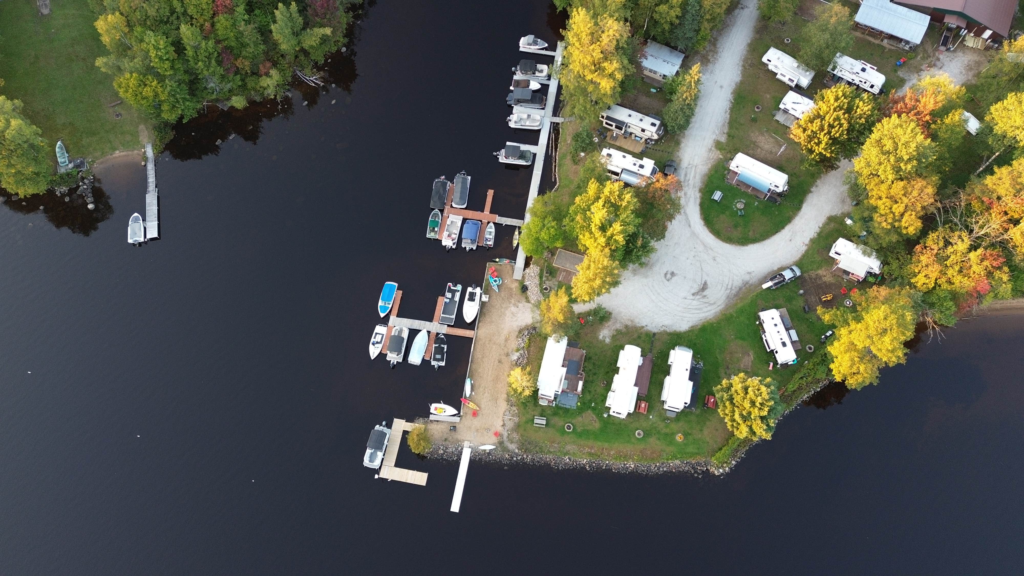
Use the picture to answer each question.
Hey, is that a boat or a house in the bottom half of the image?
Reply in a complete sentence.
There is a boat in the bottom half of the image.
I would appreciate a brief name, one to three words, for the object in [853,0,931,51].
building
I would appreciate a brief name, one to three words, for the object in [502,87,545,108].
boat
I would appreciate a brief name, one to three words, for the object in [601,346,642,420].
vehicle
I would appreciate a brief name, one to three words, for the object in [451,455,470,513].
pier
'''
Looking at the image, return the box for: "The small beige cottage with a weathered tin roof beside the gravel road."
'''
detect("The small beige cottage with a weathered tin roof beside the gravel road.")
[644,42,685,82]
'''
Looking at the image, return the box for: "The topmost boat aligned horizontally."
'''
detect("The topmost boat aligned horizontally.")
[517,36,548,50]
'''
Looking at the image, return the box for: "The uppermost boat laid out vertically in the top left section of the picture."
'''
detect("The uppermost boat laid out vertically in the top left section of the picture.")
[55,141,68,167]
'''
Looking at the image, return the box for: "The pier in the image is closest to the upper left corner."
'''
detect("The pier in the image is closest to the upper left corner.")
[145,145,161,240]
